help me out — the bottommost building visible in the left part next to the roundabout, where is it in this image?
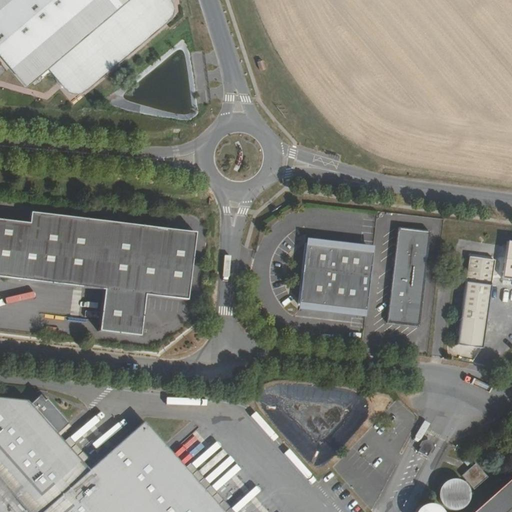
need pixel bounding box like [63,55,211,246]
[0,210,198,336]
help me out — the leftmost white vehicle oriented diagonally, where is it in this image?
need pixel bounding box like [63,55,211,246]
[70,410,106,441]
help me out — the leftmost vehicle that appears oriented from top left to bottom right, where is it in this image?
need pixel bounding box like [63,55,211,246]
[250,410,281,442]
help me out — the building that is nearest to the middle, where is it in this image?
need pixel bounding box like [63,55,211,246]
[300,238,376,316]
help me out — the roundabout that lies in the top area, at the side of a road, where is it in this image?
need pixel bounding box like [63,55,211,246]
[196,114,282,200]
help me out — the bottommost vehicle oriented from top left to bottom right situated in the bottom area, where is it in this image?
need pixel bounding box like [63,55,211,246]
[284,448,316,484]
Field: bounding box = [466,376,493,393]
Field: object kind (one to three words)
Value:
vehicle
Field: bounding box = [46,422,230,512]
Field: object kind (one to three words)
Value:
building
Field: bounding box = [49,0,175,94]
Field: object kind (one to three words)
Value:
building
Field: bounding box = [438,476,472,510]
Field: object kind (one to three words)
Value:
silo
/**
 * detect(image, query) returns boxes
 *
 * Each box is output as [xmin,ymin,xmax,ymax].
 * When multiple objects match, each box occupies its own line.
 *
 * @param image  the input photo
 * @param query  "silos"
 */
[438,476,472,510]
[416,499,450,512]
